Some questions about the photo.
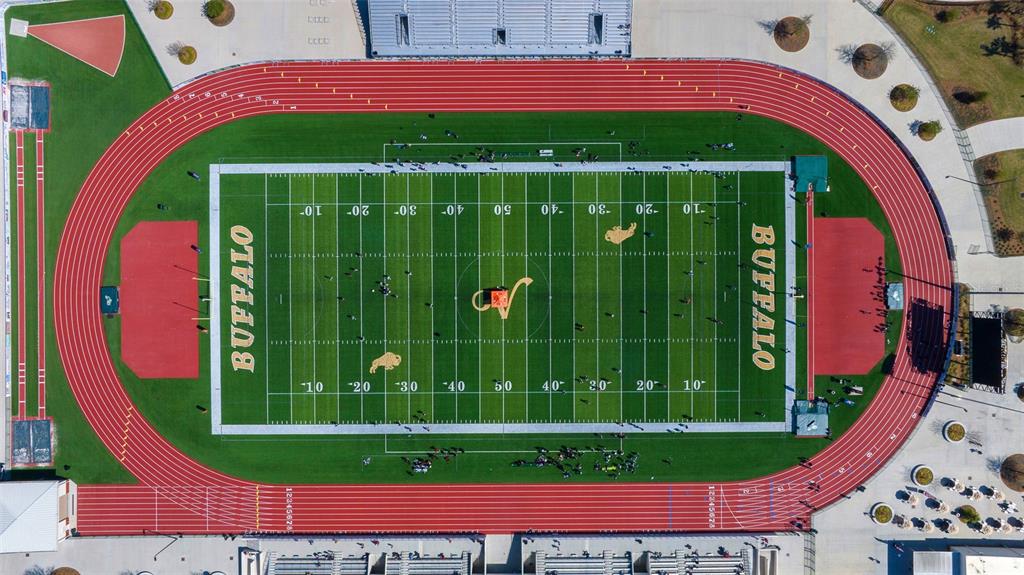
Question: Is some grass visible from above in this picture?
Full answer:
Yes, some grass is visible.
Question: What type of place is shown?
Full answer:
This image shows a sports ground.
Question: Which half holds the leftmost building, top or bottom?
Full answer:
The bottom half of the photo is where the leftmost building is.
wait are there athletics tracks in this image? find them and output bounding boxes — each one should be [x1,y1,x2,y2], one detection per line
[54,60,954,538]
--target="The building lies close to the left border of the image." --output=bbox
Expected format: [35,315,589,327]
[0,481,78,554]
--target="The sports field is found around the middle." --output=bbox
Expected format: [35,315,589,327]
[209,124,796,470]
